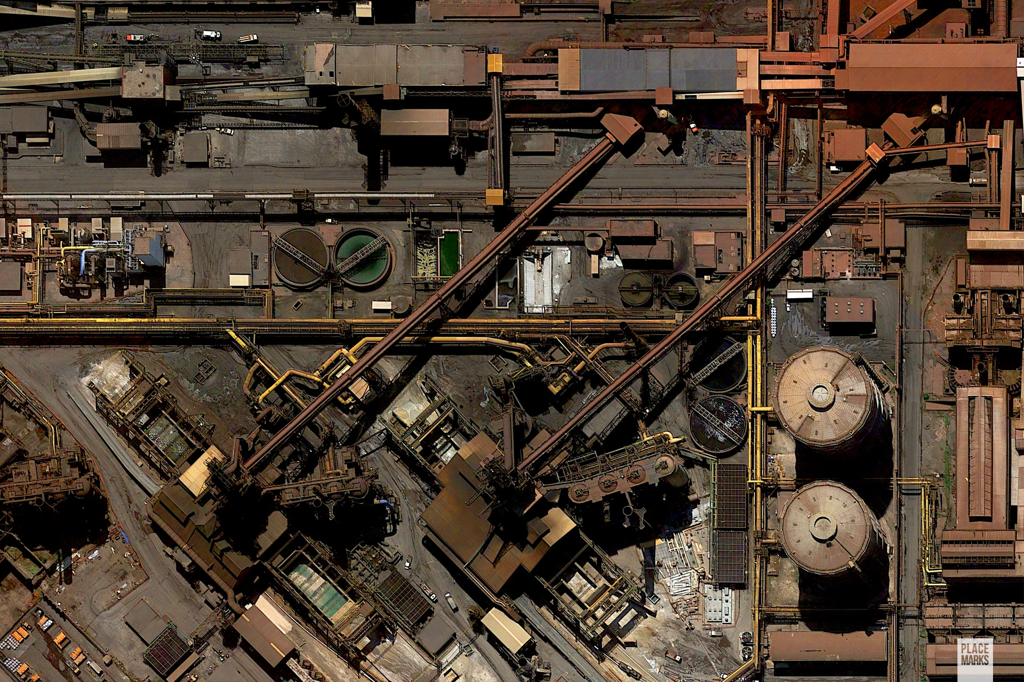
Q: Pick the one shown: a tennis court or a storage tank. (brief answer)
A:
storage tank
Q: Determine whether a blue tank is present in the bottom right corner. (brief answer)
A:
No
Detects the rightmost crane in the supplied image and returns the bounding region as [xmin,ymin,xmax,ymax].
[571,569,622,621]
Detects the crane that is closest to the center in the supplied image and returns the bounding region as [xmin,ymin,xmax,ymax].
[413,409,466,460]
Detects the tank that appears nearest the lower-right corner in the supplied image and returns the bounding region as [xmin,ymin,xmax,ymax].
[779,481,884,587]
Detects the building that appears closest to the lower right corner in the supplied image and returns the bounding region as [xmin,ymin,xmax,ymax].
[926,644,1024,677]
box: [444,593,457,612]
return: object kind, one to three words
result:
vehicle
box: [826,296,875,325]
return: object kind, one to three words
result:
building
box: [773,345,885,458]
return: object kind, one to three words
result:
storage tank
